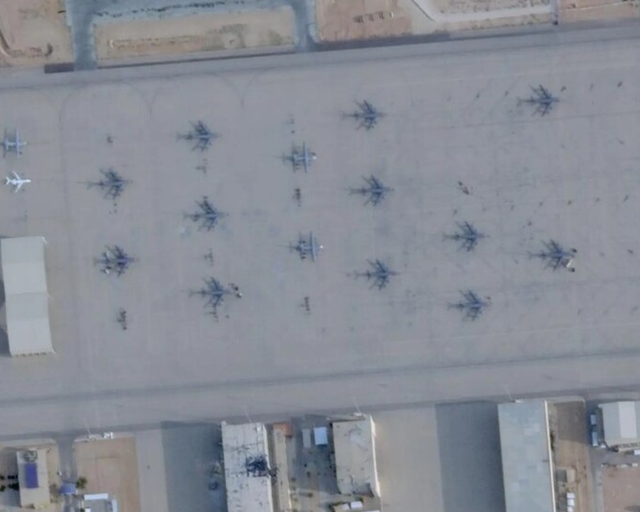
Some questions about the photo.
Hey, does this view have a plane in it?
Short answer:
Yes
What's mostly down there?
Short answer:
paved ground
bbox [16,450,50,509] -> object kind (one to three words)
building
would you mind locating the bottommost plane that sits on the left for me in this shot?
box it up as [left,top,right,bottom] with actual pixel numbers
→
[199,277,233,308]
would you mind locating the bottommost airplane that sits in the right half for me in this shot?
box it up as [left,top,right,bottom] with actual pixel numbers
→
[457,290,492,322]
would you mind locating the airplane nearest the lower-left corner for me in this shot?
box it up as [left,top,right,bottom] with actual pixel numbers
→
[104,246,138,276]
